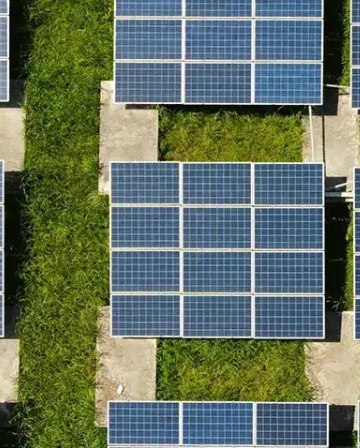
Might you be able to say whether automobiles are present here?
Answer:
No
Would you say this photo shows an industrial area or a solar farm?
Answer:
solar farm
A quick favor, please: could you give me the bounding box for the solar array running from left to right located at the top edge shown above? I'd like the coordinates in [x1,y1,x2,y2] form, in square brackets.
[114,0,324,105]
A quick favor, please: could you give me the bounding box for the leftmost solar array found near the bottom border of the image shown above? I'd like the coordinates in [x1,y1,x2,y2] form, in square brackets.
[107,399,329,448]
